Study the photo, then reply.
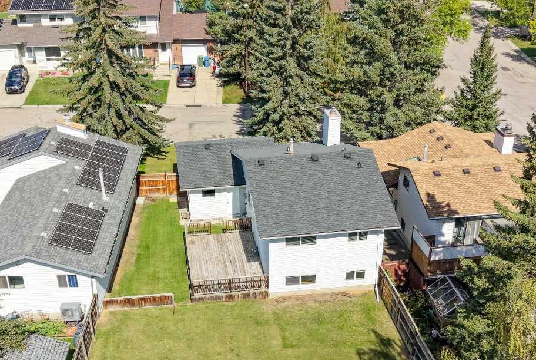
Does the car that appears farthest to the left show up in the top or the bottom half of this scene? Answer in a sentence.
It is in the top half that the car that appears farthest to the left appears.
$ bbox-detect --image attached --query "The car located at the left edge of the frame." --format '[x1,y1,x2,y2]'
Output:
[6,65,40,90]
